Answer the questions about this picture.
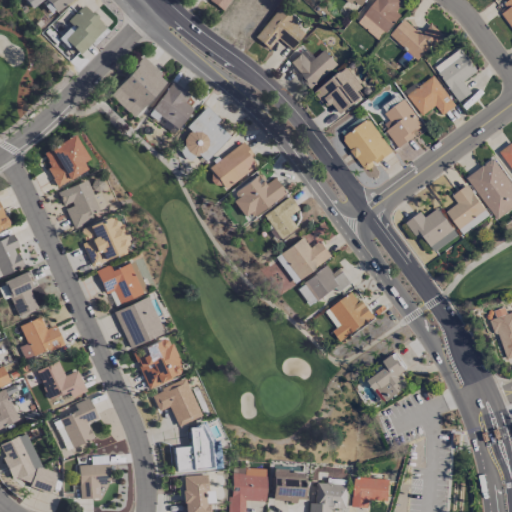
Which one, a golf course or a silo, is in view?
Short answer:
golf course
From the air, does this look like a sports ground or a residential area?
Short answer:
residential area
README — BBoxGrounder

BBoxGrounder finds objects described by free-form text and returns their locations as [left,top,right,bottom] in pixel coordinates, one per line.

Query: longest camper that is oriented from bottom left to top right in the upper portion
[464,91,484,108]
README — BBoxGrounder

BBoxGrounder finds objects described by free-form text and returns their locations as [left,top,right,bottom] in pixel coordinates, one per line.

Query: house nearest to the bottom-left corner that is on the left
[1,435,63,494]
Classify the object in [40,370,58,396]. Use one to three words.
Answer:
solar panel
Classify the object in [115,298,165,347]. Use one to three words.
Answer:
house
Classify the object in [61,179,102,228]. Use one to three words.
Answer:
house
